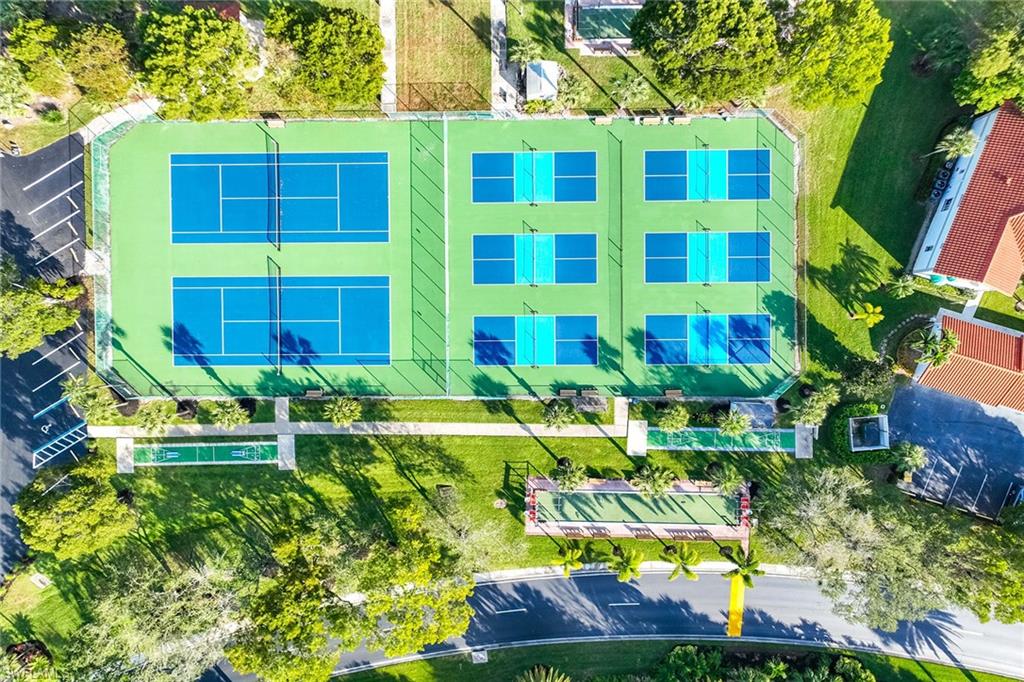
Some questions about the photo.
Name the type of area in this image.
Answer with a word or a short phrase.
sports ground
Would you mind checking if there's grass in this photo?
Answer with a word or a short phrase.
Yes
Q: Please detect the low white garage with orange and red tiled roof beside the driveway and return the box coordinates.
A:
[908,307,1024,412]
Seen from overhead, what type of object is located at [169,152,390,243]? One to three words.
tennis court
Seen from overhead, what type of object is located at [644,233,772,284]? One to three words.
sports court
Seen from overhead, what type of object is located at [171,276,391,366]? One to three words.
tennis court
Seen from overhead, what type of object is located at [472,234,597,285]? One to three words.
sports court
